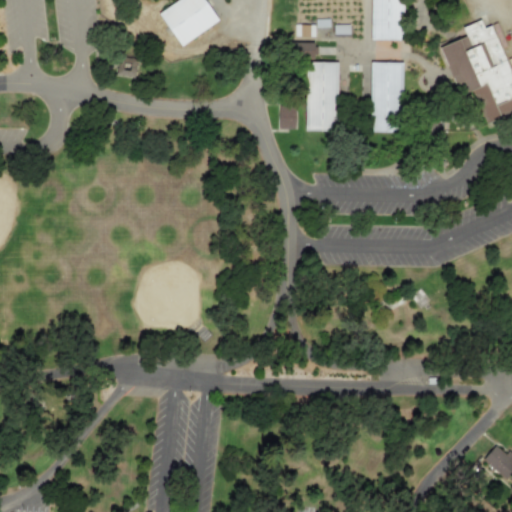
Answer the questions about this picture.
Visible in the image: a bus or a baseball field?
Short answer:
baseball field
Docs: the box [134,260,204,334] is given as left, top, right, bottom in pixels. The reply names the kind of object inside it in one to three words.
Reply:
baseball field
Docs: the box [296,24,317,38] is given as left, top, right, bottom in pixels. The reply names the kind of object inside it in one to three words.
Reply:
shed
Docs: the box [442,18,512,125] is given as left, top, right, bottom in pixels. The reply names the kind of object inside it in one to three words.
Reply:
building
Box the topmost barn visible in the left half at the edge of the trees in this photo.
[160,0,220,46]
